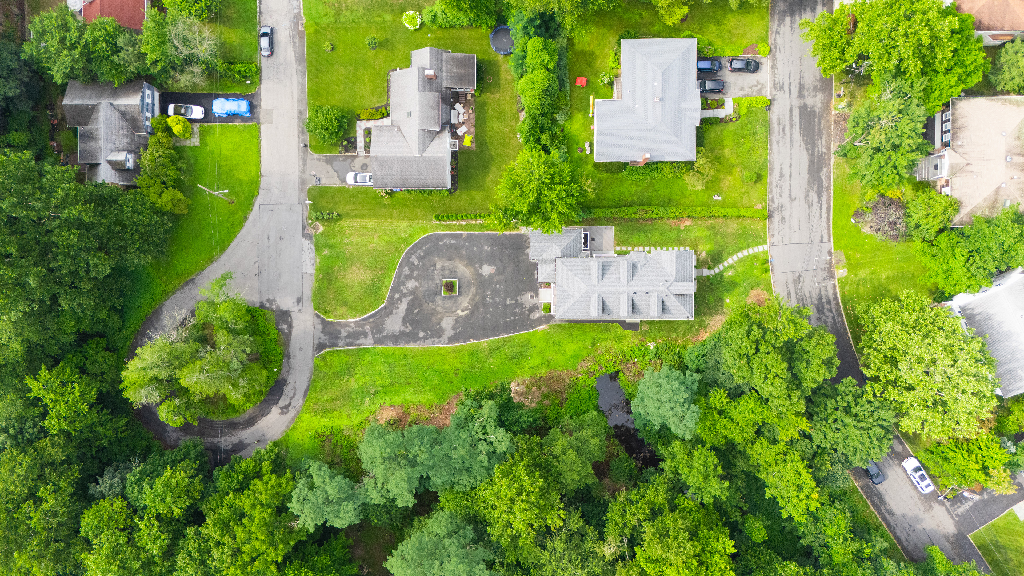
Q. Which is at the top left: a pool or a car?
car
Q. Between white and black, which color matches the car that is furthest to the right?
white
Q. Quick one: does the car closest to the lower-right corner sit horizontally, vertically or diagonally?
diagonally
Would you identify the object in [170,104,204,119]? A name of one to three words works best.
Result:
car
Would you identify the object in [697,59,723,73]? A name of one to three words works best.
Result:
car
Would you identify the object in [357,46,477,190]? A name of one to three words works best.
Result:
house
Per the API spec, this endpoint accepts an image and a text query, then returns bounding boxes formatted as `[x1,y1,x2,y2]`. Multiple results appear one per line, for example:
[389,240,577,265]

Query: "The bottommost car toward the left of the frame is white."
[347,171,371,187]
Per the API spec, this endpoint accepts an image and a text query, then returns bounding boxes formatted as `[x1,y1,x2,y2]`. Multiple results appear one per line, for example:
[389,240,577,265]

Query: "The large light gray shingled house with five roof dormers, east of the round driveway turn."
[530,228,696,323]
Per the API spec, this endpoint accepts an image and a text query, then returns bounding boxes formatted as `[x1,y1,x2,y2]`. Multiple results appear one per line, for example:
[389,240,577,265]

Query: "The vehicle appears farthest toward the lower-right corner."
[902,456,935,494]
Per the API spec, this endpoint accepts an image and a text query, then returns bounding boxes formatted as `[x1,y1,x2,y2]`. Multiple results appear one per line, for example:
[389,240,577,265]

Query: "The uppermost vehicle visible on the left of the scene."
[259,26,275,59]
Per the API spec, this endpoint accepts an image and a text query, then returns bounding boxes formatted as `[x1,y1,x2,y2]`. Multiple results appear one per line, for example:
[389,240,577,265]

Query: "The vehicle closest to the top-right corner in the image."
[727,57,759,73]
